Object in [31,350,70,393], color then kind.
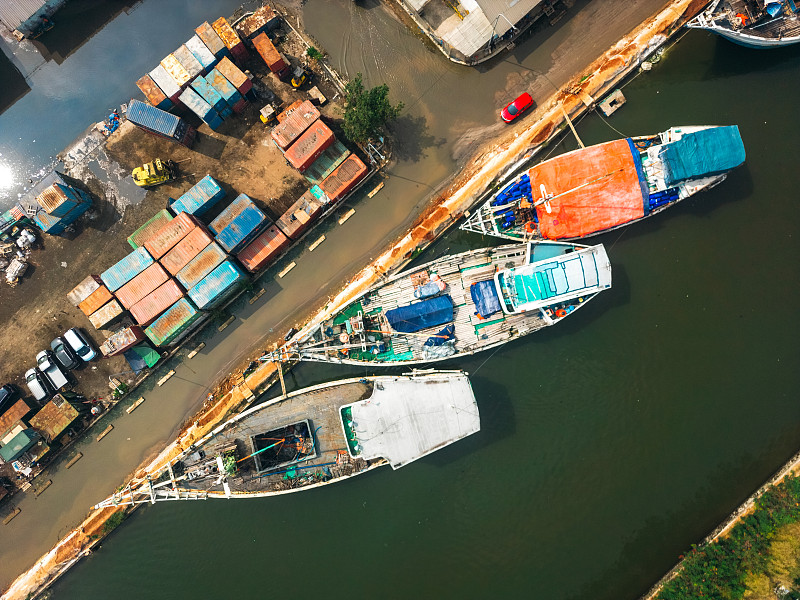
white vehicle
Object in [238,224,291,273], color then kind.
red shipping container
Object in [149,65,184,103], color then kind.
white shipping container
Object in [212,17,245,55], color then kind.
orange shipping container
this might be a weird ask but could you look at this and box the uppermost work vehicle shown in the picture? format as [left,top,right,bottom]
[286,62,311,84]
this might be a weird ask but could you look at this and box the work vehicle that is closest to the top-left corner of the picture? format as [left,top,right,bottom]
[123,159,183,187]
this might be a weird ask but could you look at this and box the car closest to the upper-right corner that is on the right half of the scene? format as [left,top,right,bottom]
[500,90,538,122]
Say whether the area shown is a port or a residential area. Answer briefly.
port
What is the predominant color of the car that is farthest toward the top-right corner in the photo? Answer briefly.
red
